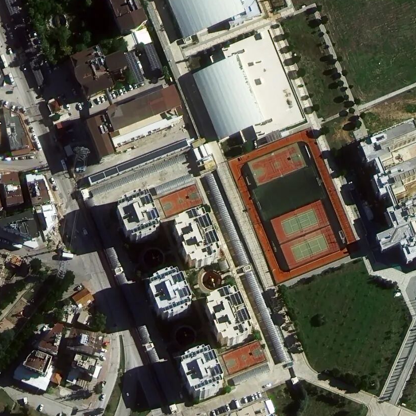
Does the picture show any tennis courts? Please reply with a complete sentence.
Yes, you can see a tennis court in this photo.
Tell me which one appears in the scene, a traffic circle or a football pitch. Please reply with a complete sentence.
Of the two, only a football pitch appears.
